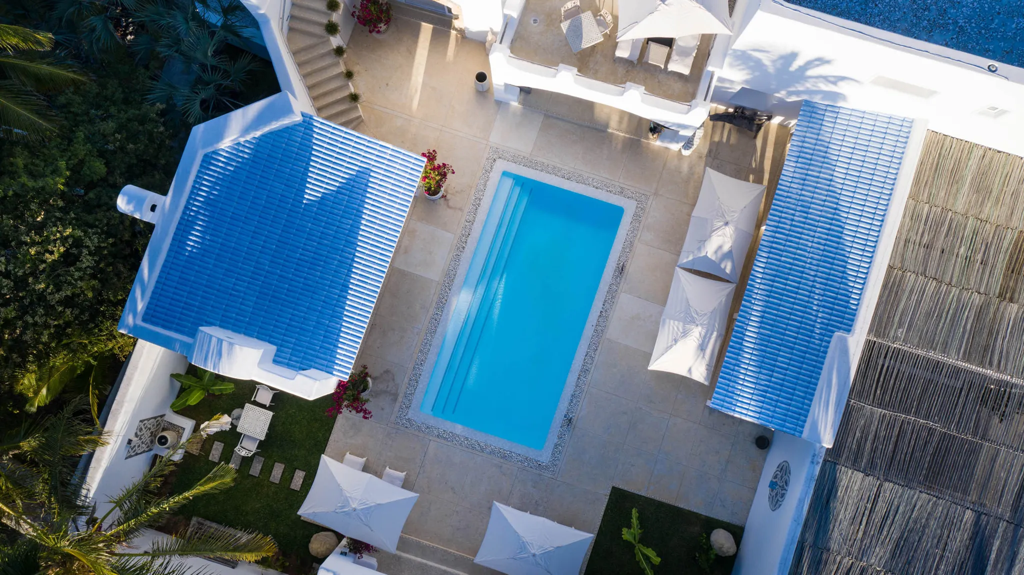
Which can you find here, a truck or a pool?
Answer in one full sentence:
This aerial view contains a pool.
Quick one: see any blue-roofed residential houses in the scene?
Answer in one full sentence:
Yes, a blue-roofed residential house appears in the view.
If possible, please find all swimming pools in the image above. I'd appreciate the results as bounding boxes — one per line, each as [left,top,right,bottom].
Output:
[409,160,636,462]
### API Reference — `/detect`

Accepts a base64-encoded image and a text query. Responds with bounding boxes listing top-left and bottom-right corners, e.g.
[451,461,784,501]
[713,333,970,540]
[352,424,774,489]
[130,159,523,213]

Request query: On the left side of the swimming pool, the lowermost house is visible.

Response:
[119,92,426,401]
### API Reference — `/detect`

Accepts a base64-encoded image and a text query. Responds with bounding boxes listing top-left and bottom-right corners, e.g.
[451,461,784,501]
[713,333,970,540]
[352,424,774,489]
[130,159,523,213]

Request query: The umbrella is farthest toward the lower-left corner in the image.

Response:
[298,454,419,554]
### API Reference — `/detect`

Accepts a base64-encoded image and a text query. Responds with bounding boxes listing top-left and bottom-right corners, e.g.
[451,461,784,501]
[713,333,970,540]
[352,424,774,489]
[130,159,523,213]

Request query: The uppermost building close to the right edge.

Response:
[712,0,1024,194]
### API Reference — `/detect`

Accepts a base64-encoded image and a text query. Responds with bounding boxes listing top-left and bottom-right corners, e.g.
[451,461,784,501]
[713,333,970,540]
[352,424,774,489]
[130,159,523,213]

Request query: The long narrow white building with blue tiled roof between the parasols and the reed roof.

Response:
[708,101,929,445]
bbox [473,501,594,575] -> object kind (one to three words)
umbrella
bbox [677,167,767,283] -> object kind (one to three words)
umbrella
